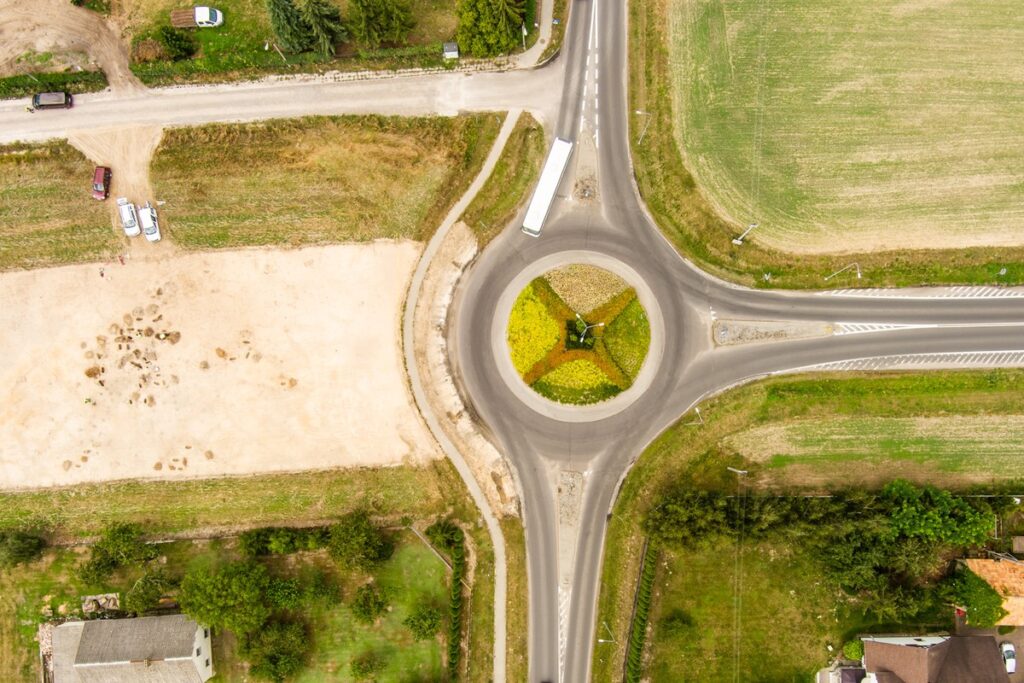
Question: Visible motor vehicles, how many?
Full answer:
In total, 7 motor vehicles can be seen.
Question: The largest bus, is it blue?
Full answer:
No, from above the largest bus looks white.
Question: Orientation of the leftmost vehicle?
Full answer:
The leftmost vehicle runs from left to right in the image.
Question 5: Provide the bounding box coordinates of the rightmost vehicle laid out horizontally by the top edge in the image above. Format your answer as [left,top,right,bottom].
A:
[169,4,223,27]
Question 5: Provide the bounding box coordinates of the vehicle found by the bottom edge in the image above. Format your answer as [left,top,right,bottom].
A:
[997,639,1022,676]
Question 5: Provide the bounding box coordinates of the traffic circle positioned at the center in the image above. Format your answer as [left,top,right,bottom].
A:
[456,215,704,461]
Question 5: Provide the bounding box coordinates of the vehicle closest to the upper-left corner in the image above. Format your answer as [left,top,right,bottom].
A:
[31,89,73,110]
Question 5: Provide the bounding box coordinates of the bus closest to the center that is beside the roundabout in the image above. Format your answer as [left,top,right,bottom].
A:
[516,136,574,239]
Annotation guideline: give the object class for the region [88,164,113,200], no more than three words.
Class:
car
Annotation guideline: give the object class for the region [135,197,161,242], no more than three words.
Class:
car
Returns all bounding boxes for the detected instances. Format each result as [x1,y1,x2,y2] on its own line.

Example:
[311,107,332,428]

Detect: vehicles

[115,193,141,238]
[135,197,161,242]
[997,639,1022,676]
[88,164,113,200]
[516,136,574,239]
[31,89,73,110]
[169,4,223,27]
